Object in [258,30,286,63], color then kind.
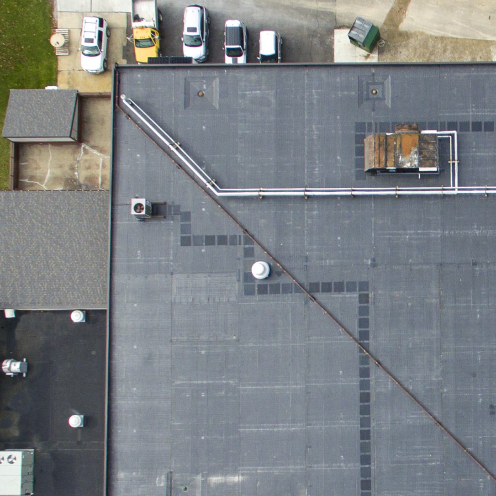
white car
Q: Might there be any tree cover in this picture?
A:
No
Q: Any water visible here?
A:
No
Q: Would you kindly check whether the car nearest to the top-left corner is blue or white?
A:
white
